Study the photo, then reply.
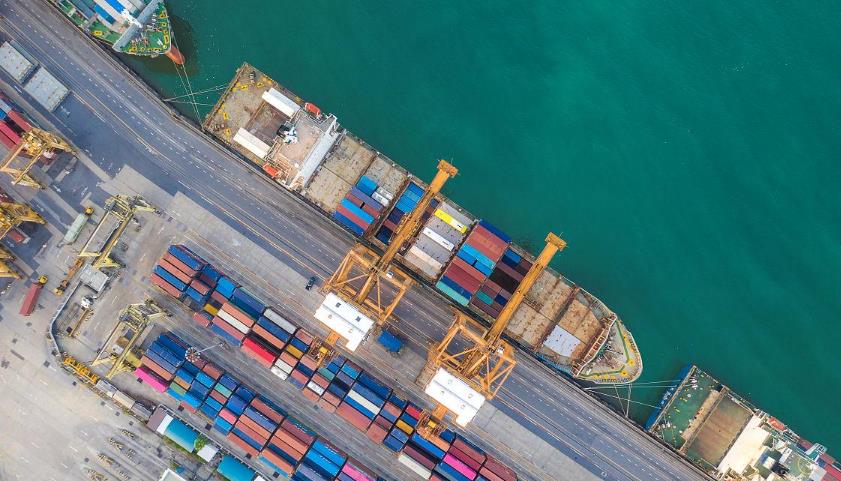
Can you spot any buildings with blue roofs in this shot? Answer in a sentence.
Yes, the photo shows a building with a blue roof.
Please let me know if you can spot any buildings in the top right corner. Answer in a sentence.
No, the scene shows no building in the top right corner.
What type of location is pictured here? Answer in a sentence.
This image shows a port.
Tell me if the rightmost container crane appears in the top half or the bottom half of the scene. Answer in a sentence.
You can find the rightmost container crane in the bottom half.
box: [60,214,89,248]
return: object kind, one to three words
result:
shipping container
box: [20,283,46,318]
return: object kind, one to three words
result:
shipping container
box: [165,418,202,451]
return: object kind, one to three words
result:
building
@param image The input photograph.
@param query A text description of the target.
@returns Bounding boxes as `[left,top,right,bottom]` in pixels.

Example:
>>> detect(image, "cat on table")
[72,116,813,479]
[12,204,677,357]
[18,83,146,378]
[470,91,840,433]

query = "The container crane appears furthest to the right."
[412,230,574,443]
